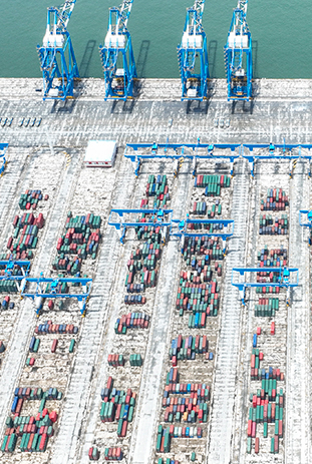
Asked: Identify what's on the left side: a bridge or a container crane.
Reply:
container crane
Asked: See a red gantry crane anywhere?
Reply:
No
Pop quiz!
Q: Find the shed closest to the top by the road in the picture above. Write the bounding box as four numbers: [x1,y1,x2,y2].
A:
[84,141,117,167]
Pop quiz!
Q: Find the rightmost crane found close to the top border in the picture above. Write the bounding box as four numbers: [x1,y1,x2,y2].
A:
[223,0,258,101]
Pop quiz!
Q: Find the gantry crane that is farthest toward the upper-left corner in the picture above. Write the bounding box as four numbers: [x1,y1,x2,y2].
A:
[35,0,83,100]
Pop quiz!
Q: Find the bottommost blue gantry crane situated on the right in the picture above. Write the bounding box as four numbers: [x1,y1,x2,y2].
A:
[231,262,298,306]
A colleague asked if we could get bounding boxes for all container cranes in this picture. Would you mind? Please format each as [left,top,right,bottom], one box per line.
[223,0,258,101]
[169,213,234,255]
[109,203,174,245]
[183,138,243,176]
[35,0,83,100]
[243,138,300,176]
[175,0,214,100]
[21,272,94,317]
[299,208,312,246]
[97,0,141,100]
[0,255,32,299]
[0,144,15,176]
[125,138,185,177]
[231,262,298,306]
